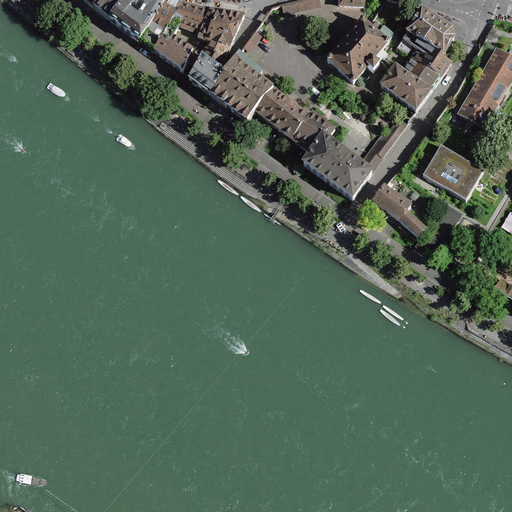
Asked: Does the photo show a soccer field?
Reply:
No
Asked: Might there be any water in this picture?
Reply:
Yes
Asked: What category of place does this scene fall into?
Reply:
residential area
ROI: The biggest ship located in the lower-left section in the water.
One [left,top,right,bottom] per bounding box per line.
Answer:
[14,472,48,486]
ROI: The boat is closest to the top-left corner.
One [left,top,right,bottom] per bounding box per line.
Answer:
[46,84,66,97]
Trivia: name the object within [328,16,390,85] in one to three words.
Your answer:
house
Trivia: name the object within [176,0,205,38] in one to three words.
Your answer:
house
